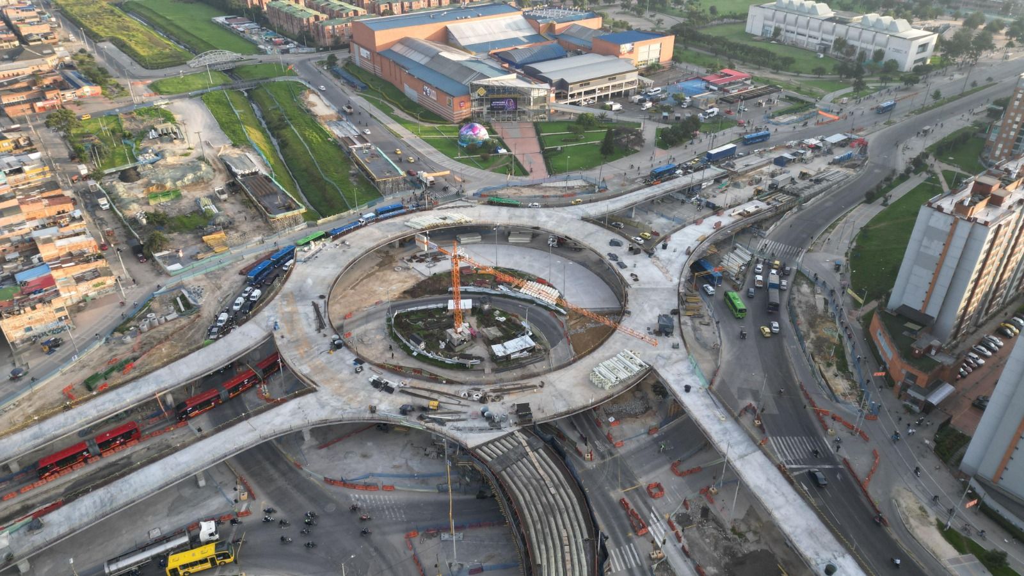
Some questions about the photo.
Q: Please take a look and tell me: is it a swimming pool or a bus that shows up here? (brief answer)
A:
bus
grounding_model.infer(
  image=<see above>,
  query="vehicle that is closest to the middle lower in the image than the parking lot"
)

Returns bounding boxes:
[545,237,576,253]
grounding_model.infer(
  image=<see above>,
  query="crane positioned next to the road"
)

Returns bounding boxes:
[410,235,660,350]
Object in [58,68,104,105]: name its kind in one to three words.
building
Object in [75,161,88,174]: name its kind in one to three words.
vehicle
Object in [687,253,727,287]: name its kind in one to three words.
bus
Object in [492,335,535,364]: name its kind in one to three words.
shed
